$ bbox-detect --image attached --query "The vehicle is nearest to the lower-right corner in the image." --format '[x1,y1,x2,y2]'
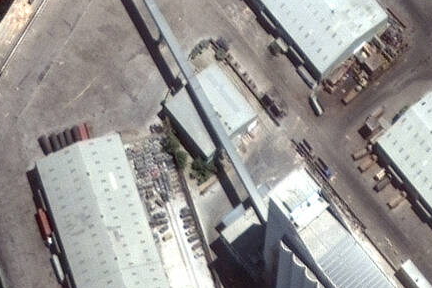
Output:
[386,190,408,209]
